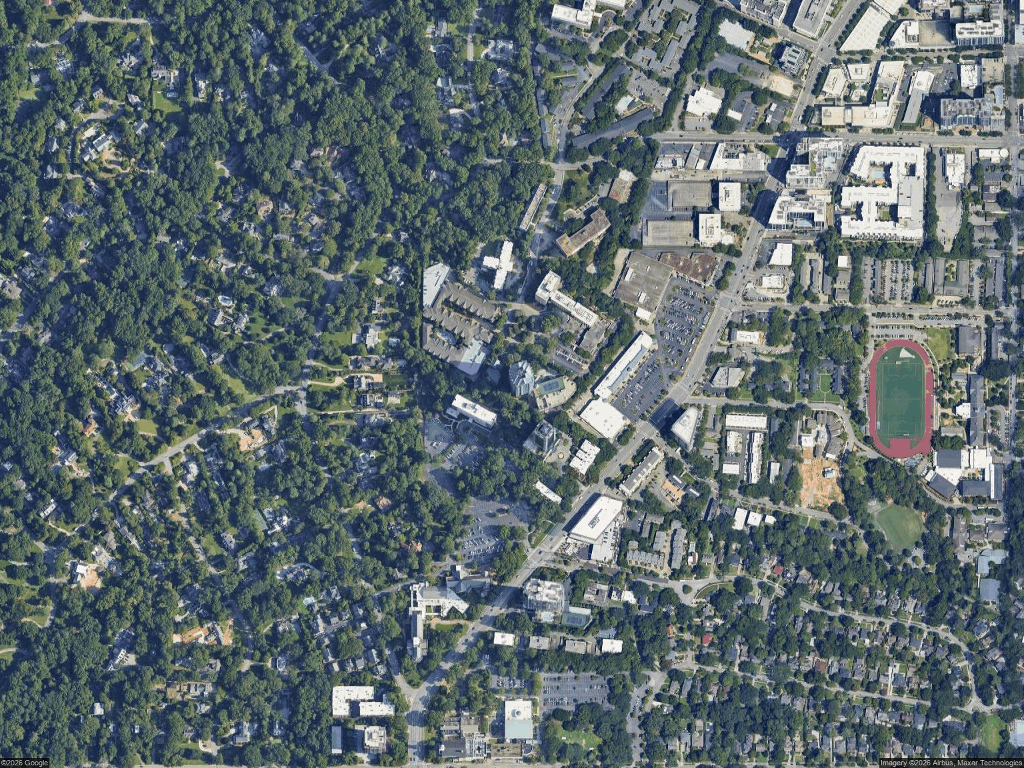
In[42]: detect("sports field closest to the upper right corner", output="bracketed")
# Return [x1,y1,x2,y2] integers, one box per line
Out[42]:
[928,328,955,363]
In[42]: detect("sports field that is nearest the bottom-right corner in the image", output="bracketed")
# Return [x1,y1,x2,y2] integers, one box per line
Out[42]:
[878,504,925,550]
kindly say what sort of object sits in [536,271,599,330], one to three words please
building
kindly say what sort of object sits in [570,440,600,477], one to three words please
building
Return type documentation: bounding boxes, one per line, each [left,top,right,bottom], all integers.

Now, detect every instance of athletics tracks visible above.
[869,339,933,458]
